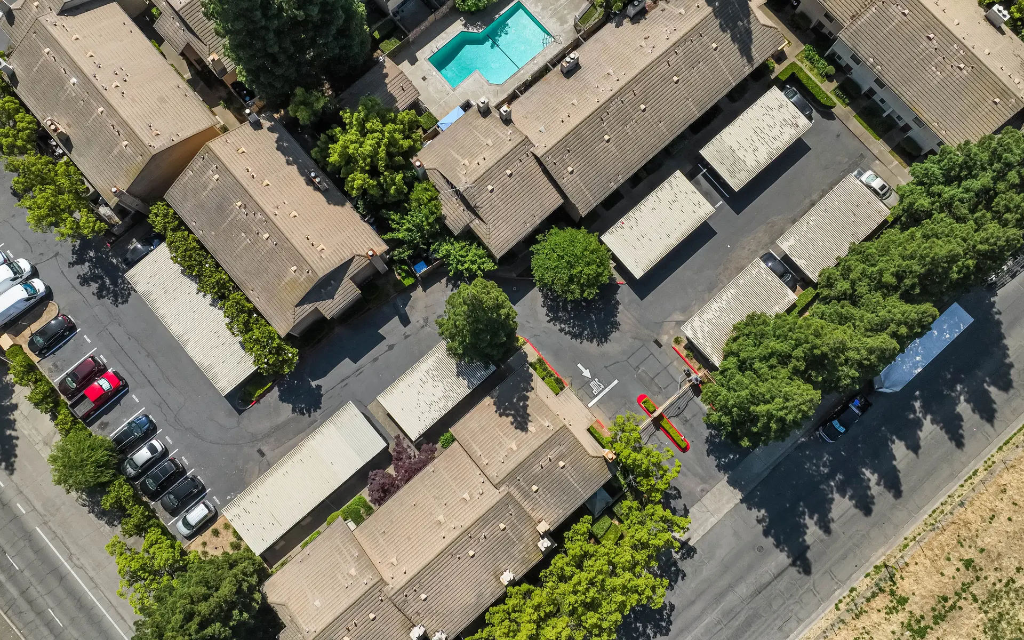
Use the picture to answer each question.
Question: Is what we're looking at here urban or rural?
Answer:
urban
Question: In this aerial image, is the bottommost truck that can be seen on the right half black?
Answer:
Yes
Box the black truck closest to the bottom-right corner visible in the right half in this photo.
[819,393,877,446]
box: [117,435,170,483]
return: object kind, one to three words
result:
car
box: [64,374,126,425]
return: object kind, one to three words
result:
truck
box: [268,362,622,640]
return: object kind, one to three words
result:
building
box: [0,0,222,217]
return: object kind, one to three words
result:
building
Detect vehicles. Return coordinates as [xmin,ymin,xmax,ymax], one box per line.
[117,435,170,483]
[107,414,157,464]
[175,496,219,535]
[121,230,168,270]
[0,273,53,330]
[819,393,877,446]
[55,354,107,401]
[64,374,126,425]
[759,249,804,296]
[24,312,75,357]
[156,472,208,519]
[767,82,813,120]
[0,255,37,292]
[855,166,903,215]
[136,455,188,502]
